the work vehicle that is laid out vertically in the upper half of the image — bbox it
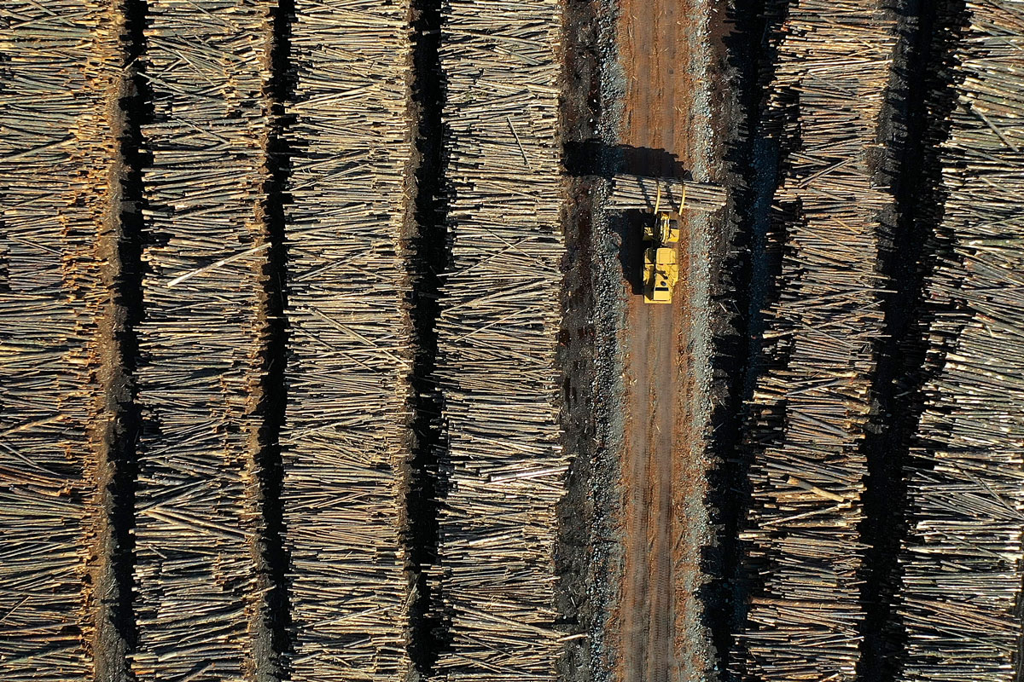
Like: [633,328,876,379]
[639,176,684,305]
